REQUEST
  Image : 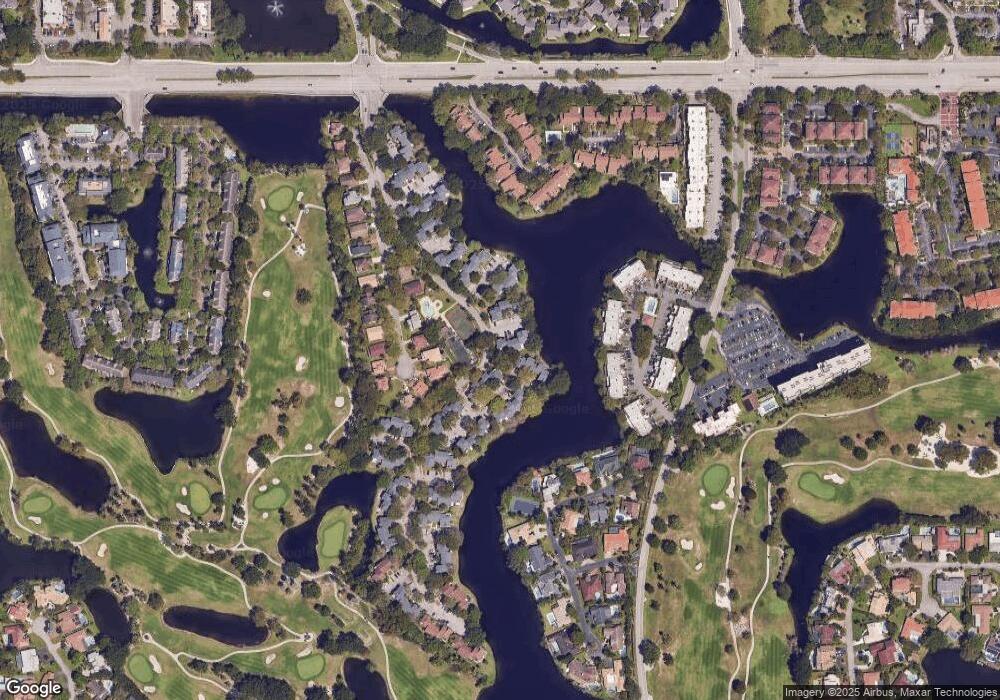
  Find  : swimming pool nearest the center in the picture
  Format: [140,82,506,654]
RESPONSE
[420,297,441,319]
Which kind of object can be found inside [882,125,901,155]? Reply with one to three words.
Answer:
sports court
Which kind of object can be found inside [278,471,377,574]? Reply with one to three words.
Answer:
pond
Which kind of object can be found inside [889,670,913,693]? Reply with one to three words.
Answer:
house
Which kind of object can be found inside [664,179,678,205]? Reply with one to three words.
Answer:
swimming pool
